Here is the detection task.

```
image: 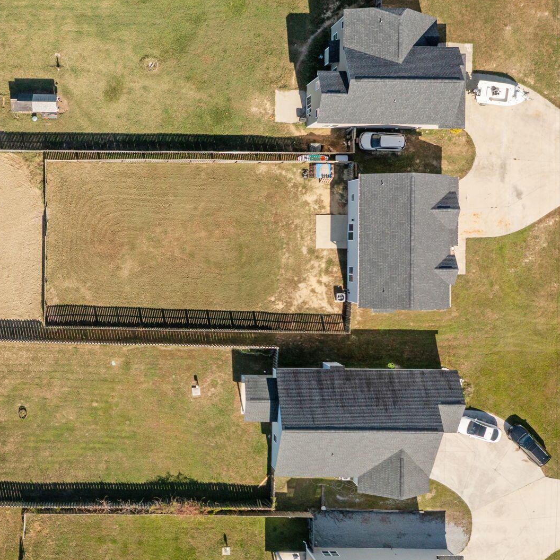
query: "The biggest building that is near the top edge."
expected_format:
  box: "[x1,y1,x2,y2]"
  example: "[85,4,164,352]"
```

[305,7,466,130]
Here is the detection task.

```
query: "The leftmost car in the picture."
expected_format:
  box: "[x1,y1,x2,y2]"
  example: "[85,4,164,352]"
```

[358,129,406,152]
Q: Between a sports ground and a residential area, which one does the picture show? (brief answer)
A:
residential area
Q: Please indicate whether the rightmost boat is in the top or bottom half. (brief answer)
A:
top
